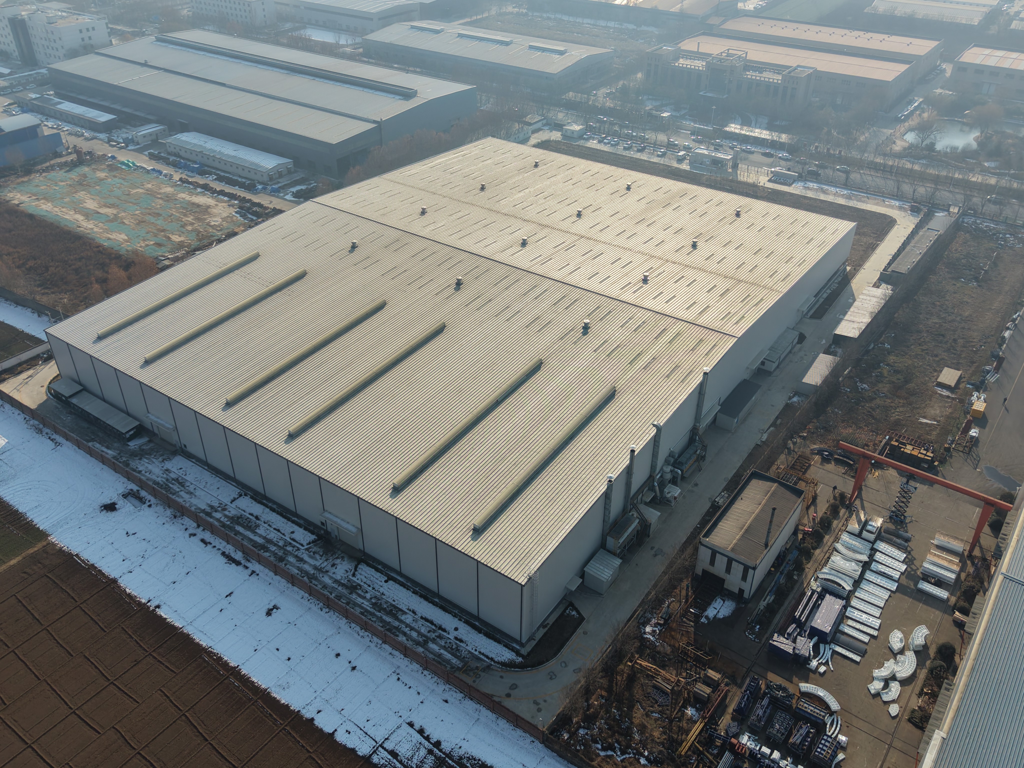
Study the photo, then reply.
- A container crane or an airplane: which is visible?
container crane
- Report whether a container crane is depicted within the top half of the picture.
No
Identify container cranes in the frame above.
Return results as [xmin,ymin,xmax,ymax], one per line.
[836,445,1015,556]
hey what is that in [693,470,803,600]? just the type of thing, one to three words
building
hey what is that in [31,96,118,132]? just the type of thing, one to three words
building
